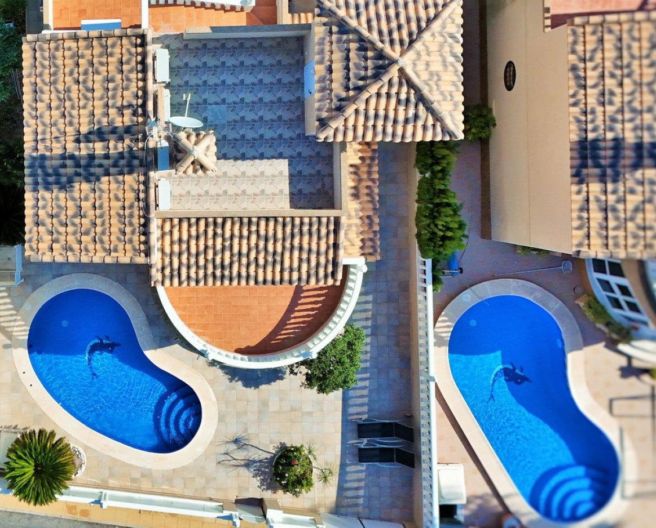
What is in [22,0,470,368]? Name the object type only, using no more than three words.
house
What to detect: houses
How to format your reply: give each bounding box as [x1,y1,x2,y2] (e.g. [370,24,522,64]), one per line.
[484,0,656,361]
[22,0,470,368]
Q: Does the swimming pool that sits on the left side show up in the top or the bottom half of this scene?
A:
bottom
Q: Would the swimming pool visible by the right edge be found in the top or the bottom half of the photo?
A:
bottom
